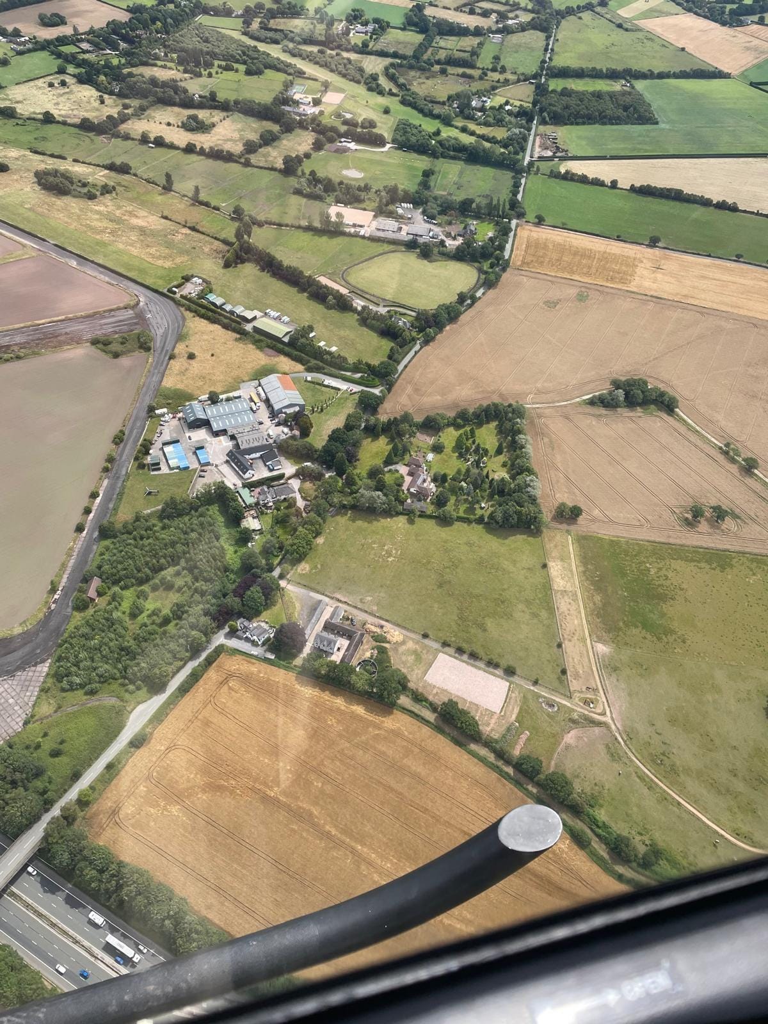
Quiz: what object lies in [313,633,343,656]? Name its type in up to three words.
house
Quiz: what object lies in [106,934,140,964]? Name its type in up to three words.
truck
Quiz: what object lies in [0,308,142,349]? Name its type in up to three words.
runway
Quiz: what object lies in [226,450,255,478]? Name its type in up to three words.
barn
